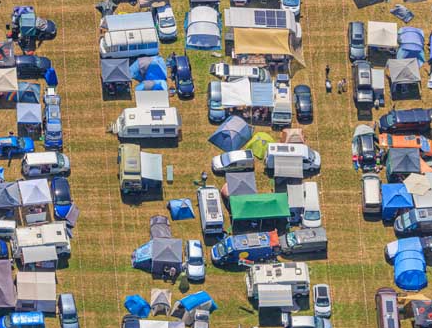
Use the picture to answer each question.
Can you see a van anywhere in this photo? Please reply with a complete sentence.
Yes, there is a van in the image.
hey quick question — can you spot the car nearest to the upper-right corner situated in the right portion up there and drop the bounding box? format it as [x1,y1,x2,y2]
[348,25,368,61]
